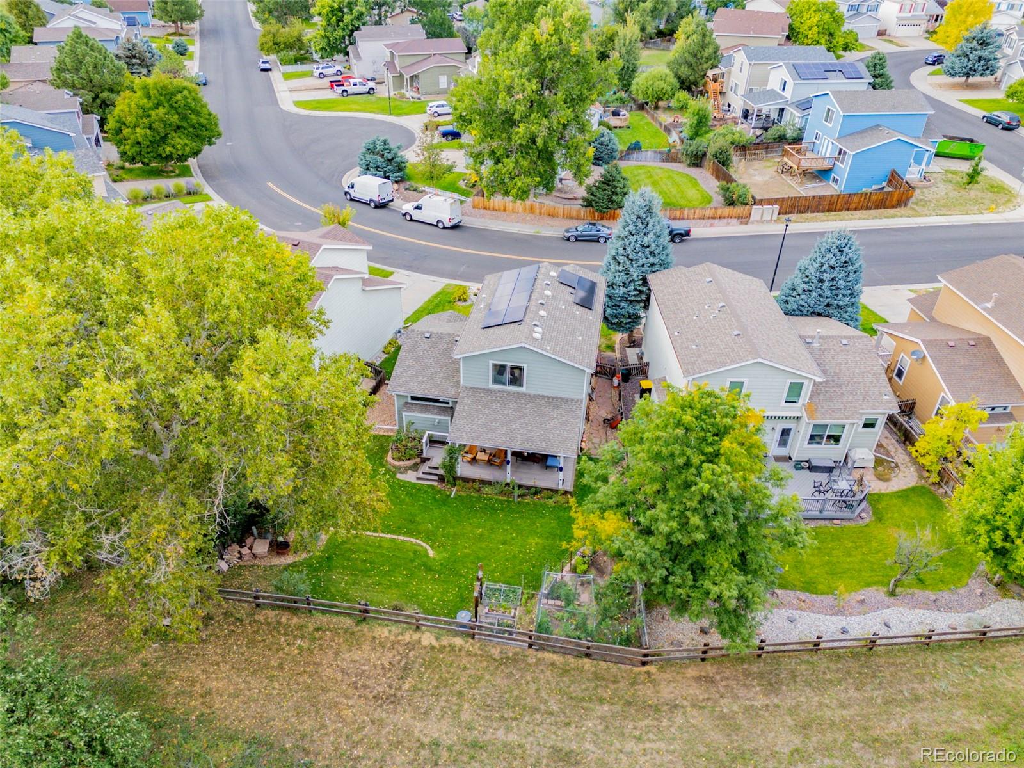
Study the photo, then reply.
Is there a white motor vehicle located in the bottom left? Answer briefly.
No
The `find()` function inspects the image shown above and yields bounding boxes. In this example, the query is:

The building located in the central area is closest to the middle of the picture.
[386,260,605,498]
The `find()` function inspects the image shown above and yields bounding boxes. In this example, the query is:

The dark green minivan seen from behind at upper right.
[985,111,1019,129]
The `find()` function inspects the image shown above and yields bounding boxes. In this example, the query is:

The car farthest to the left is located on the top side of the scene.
[190,70,206,84]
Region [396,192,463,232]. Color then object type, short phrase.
white van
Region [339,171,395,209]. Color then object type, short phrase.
white van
